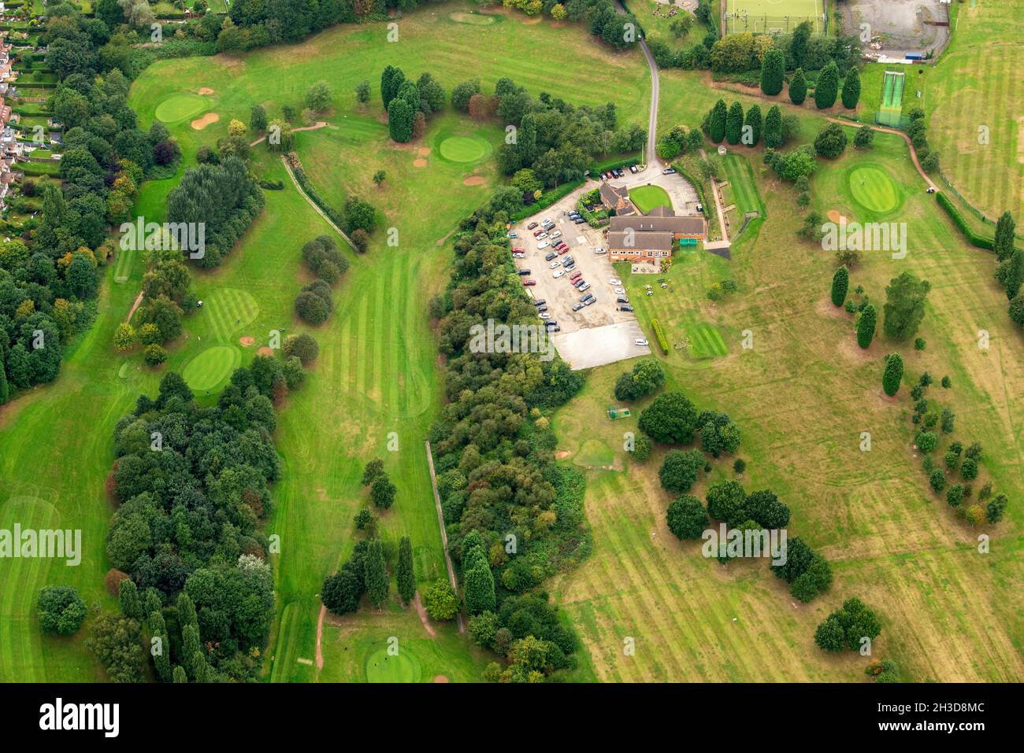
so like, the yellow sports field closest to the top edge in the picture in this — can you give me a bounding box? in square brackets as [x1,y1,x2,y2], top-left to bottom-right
[721,0,821,33]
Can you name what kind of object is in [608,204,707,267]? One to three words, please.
building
